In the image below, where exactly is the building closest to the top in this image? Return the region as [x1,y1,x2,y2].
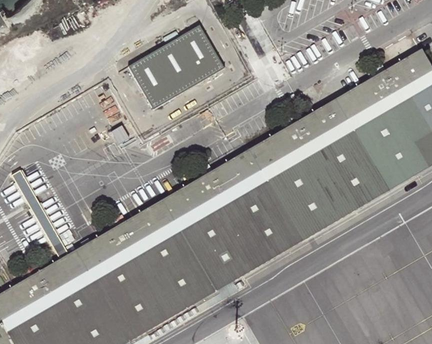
[128,22,224,109]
